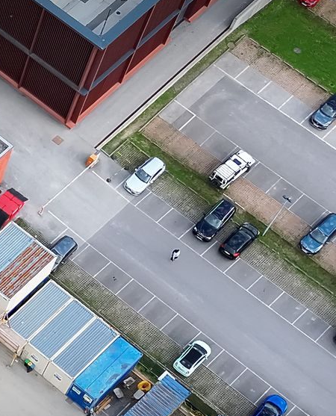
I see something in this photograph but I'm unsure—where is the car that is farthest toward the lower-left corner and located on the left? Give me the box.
[48,231,84,276]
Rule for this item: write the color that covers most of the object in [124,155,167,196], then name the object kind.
white car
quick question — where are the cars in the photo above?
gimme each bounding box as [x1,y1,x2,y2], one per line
[124,155,167,196]
[298,210,336,256]
[252,396,289,416]
[307,88,336,129]
[218,224,258,261]
[191,199,239,243]
[48,231,84,276]
[173,337,215,379]
[210,150,256,193]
